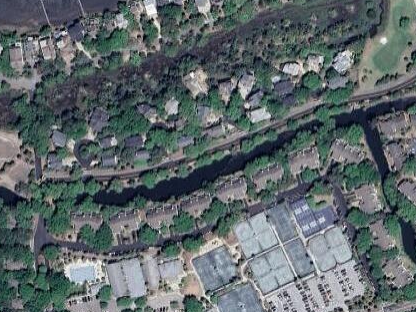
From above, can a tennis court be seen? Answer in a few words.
Yes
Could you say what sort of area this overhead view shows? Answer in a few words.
residential area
